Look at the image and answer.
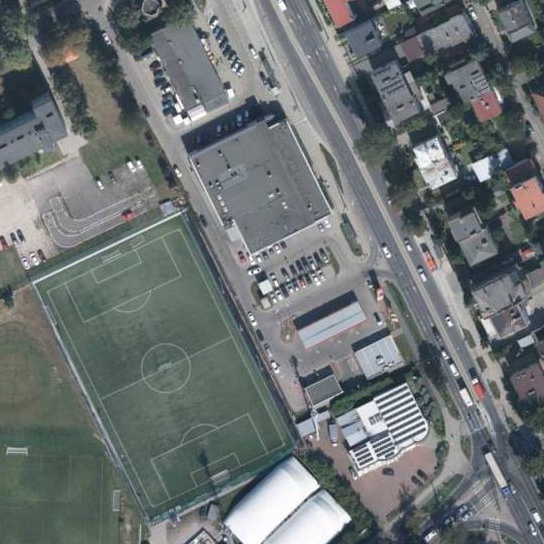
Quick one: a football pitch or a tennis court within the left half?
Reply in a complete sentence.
The one visible within the left half is a football pitch.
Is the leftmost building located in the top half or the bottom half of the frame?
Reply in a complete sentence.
It is in the top half that the leftmost building appears.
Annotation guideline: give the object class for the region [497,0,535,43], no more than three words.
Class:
house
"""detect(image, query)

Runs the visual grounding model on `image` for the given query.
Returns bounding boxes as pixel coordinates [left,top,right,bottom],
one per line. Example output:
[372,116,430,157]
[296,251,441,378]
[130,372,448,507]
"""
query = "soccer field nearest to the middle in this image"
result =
[34,213,297,522]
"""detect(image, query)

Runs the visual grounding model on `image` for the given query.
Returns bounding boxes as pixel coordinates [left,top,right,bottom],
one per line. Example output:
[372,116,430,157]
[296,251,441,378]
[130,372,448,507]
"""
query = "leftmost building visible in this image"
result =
[0,116,44,172]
